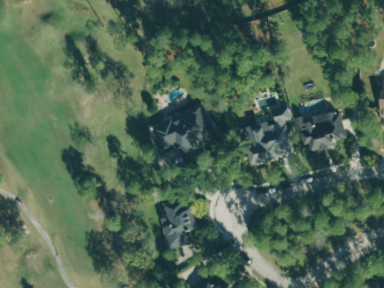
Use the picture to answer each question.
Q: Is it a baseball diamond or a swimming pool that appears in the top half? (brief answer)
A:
swimming pool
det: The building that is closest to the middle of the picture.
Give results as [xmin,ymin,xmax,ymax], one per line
[150,106,206,155]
